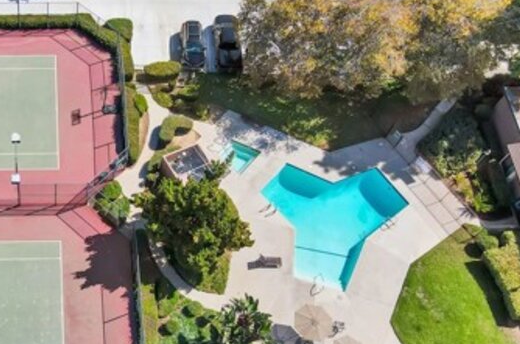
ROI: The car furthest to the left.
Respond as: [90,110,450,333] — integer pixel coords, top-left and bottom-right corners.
[179,19,209,71]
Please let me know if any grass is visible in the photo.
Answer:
Yes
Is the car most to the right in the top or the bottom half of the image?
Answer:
top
